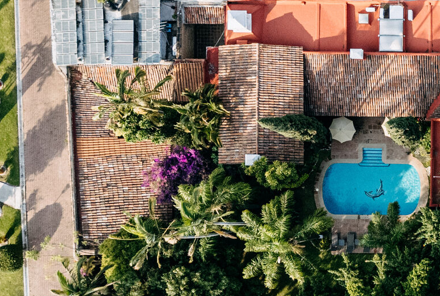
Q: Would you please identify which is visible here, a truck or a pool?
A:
pool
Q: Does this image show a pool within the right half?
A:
Yes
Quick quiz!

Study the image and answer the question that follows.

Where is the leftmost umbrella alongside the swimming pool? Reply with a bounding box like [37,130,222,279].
[329,117,356,144]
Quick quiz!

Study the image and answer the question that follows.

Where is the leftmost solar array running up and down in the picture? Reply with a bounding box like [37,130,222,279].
[54,0,75,64]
